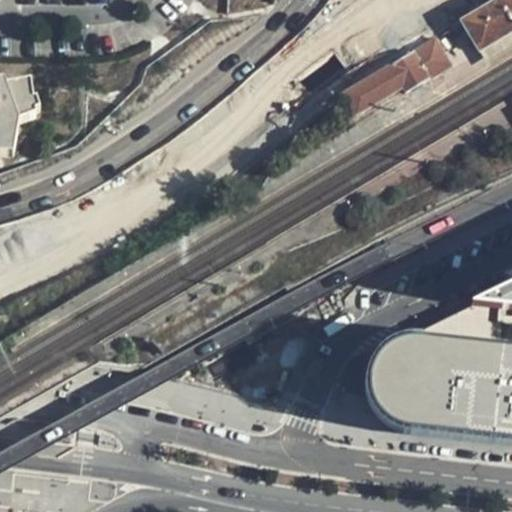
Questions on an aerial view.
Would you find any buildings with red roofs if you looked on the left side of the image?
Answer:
No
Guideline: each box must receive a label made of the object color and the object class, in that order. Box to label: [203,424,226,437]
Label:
white vehicle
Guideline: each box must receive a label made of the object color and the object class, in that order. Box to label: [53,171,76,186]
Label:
white car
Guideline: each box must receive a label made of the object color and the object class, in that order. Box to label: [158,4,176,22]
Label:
white car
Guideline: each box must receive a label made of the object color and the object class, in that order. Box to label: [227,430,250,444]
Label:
white vehicle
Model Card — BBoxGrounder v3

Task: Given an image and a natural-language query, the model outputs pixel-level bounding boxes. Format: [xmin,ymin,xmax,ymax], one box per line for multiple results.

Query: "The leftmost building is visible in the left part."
[0,72,42,168]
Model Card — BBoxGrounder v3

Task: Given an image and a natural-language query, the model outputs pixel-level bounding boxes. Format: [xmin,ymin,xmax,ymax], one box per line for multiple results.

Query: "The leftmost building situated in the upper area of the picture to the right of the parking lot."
[342,36,452,117]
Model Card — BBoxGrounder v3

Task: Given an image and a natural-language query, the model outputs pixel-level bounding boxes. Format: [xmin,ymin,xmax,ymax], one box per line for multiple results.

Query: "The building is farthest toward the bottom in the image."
[364,329,512,446]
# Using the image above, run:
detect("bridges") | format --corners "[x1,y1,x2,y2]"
[0,178,512,473]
